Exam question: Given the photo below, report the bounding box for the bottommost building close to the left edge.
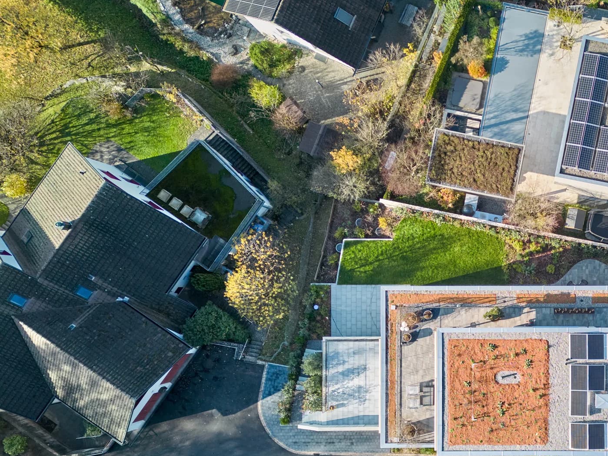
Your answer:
[0,142,209,446]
